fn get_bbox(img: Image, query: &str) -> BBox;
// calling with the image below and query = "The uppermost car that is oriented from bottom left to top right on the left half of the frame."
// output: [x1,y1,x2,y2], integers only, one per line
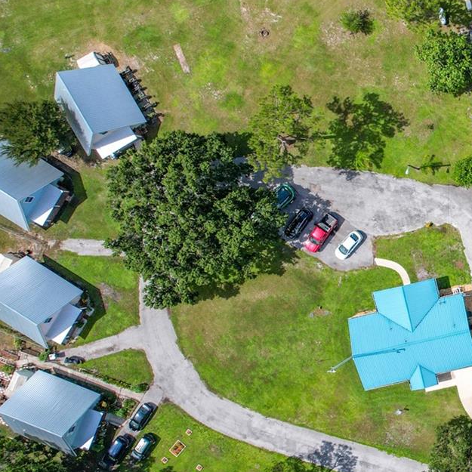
[131,396,159,430]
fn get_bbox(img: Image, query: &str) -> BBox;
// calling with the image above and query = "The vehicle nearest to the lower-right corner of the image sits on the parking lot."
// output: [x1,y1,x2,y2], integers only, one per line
[335,228,367,262]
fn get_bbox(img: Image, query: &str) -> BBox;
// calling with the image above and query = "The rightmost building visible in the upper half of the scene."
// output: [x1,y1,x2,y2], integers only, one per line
[48,46,150,169]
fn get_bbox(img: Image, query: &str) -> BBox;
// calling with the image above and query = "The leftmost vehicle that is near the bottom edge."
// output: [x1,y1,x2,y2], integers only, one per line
[104,433,133,468]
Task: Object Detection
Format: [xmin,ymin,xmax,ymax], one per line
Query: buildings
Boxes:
[0,244,99,350]
[0,360,119,460]
[348,278,472,391]
[0,130,81,232]
[48,46,150,169]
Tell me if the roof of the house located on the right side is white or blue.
blue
